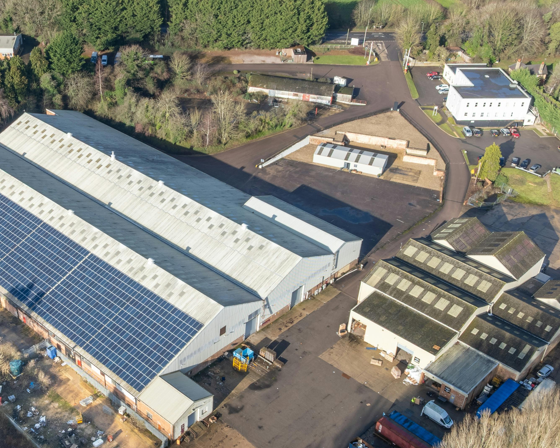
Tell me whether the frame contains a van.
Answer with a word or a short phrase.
Yes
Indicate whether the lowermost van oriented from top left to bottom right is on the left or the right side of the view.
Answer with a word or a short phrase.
right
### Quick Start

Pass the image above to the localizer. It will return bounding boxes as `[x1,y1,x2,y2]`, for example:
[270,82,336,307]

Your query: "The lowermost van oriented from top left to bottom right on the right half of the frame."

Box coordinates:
[418,394,457,426]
